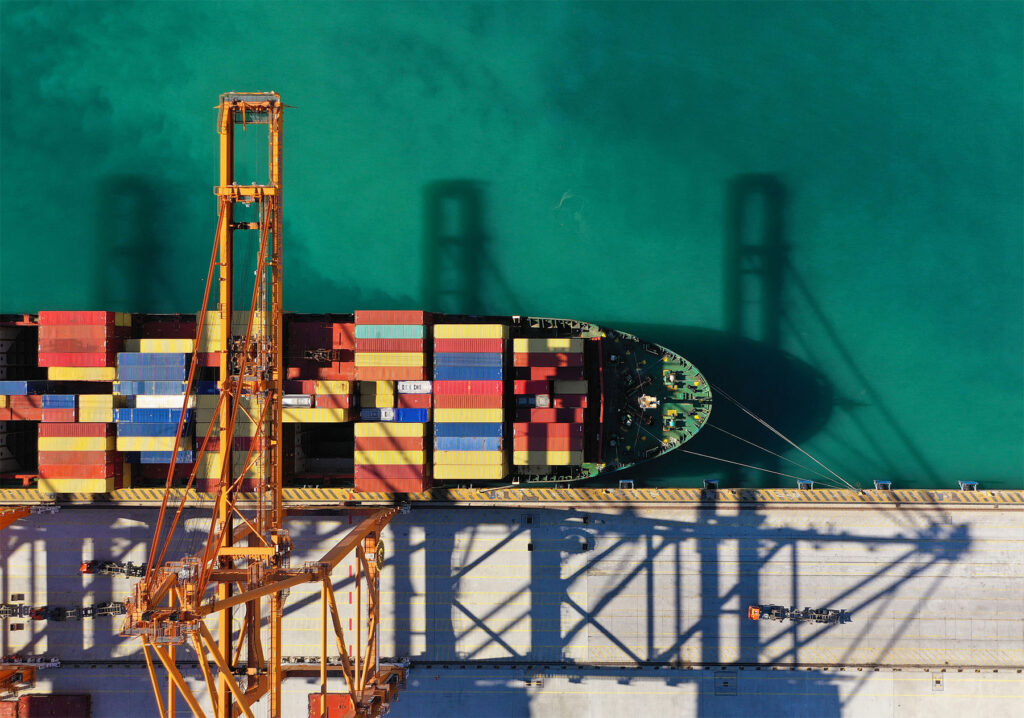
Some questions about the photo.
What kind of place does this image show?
port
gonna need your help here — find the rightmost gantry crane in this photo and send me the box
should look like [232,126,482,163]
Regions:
[118,94,415,718]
